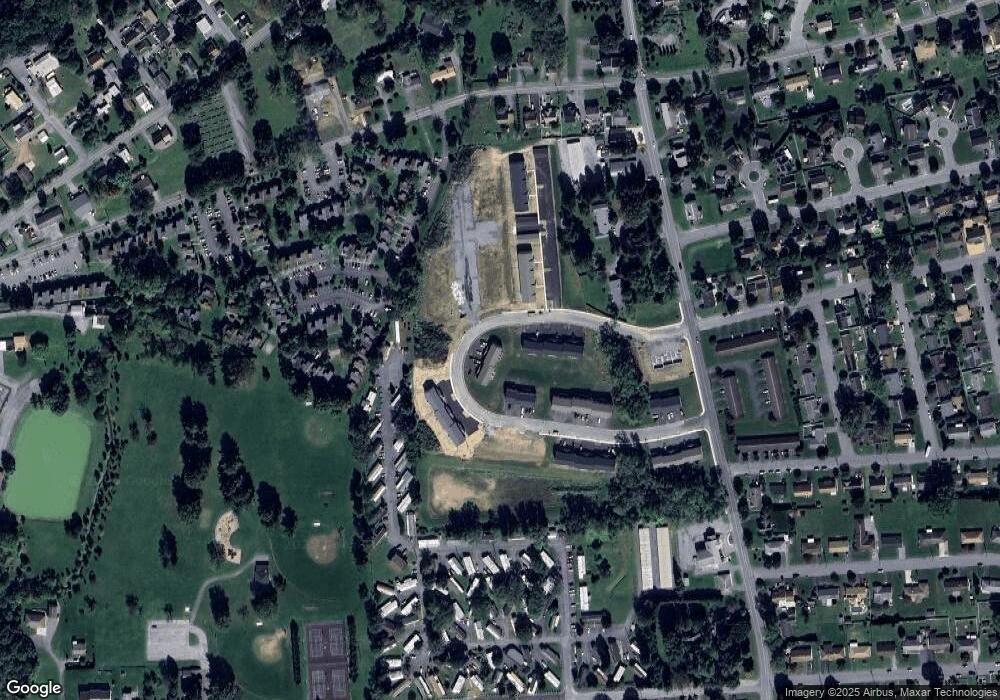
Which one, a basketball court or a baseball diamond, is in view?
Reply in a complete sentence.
There is a baseball diamond in the scene.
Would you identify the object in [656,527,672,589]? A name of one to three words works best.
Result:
shed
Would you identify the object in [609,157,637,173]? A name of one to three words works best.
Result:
house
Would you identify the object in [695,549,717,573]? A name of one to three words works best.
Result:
building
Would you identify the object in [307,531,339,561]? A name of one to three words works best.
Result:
baseball field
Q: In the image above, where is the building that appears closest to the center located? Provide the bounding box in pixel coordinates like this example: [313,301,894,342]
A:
[474,340,505,386]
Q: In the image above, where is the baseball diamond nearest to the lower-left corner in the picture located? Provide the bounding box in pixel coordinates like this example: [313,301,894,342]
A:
[252,628,294,663]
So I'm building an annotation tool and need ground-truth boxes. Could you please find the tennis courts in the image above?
[312,672,325,700]
[332,670,346,699]
[309,629,323,657]
[329,627,343,656]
